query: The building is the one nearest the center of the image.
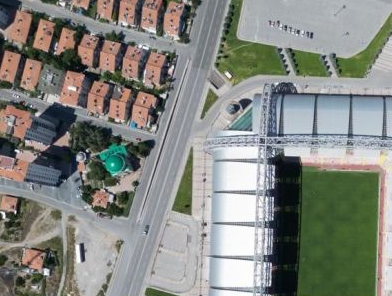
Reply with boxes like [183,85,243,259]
[133,95,160,128]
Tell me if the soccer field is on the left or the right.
right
